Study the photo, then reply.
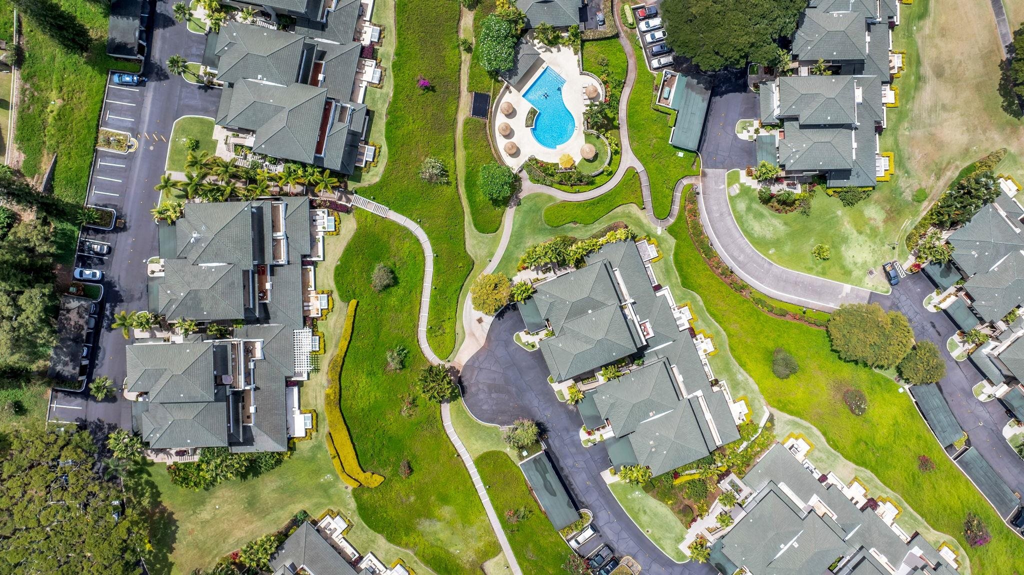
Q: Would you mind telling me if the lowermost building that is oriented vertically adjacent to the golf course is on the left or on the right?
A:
right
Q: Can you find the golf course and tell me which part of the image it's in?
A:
top right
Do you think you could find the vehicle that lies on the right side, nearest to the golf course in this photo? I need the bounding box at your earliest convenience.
[879,259,901,288]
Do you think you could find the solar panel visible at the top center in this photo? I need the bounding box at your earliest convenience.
[470,92,490,119]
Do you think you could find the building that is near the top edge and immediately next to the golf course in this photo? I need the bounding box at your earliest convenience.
[752,0,900,187]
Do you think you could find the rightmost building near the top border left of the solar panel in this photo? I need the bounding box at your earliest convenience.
[202,0,378,175]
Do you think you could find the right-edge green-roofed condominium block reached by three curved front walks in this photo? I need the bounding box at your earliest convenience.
[917,176,1024,432]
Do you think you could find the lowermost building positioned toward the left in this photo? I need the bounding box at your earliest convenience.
[269,514,389,575]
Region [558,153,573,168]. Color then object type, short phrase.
yellow umbrella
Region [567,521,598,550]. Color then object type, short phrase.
white van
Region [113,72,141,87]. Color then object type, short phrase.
blue car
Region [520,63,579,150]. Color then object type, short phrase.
blue swimming pool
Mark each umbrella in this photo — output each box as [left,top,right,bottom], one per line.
[585,86,598,99]
[503,141,517,156]
[558,153,573,168]
[500,102,514,116]
[498,123,512,137]
[580,144,596,160]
